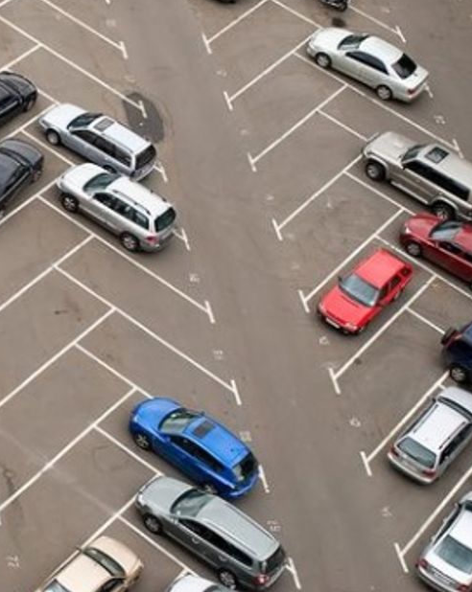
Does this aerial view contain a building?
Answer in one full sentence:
No, I can see no building in this picture.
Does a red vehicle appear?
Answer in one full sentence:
Yes, there's a red vehicle down there.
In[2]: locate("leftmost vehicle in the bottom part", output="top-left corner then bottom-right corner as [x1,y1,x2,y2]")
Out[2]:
[43,538,147,592]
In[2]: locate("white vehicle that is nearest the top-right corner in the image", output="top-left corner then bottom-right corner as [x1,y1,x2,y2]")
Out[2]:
[311,30,426,105]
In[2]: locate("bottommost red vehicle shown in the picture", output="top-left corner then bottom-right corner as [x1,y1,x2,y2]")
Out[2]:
[319,250,413,337]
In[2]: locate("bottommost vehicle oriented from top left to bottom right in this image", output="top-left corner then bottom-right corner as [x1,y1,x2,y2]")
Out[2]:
[138,477,291,592]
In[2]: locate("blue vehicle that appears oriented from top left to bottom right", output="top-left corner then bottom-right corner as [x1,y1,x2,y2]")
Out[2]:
[128,398,265,503]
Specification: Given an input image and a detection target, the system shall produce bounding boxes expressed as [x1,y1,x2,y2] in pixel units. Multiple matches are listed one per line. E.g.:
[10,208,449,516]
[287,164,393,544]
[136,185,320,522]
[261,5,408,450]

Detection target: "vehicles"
[59,167,181,255]
[128,398,265,503]
[434,313,472,385]
[0,141,50,215]
[43,538,147,592]
[38,101,163,185]
[417,493,472,592]
[400,213,472,286]
[319,250,413,337]
[138,477,291,592]
[361,132,472,223]
[155,569,235,592]
[0,68,42,127]
[389,385,472,484]
[311,30,426,105]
